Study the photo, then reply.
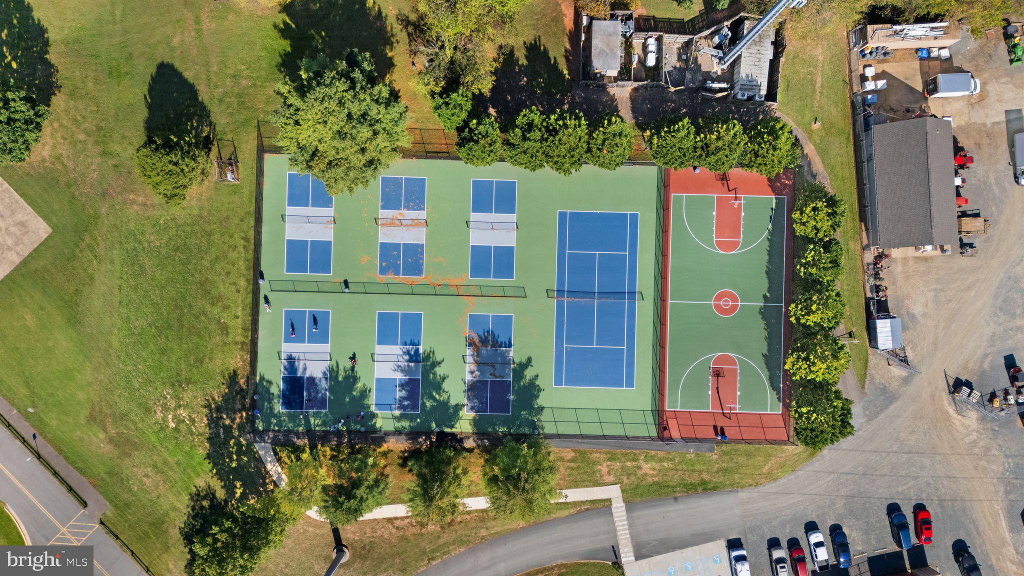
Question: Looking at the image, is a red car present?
Yes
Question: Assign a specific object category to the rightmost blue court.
tennis court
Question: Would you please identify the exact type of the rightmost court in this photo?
basketball court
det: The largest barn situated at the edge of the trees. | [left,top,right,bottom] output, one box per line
[864,118,960,248]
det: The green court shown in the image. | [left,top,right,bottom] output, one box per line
[659,169,794,440]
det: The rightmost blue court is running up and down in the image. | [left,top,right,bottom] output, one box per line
[554,211,639,388]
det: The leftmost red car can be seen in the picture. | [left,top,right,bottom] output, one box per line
[789,544,809,576]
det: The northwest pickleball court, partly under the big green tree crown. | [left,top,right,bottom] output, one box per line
[285,173,334,274]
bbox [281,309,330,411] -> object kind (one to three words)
sports court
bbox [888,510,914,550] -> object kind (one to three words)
car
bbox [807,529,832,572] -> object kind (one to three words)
truck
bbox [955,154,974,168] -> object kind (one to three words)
work vehicle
